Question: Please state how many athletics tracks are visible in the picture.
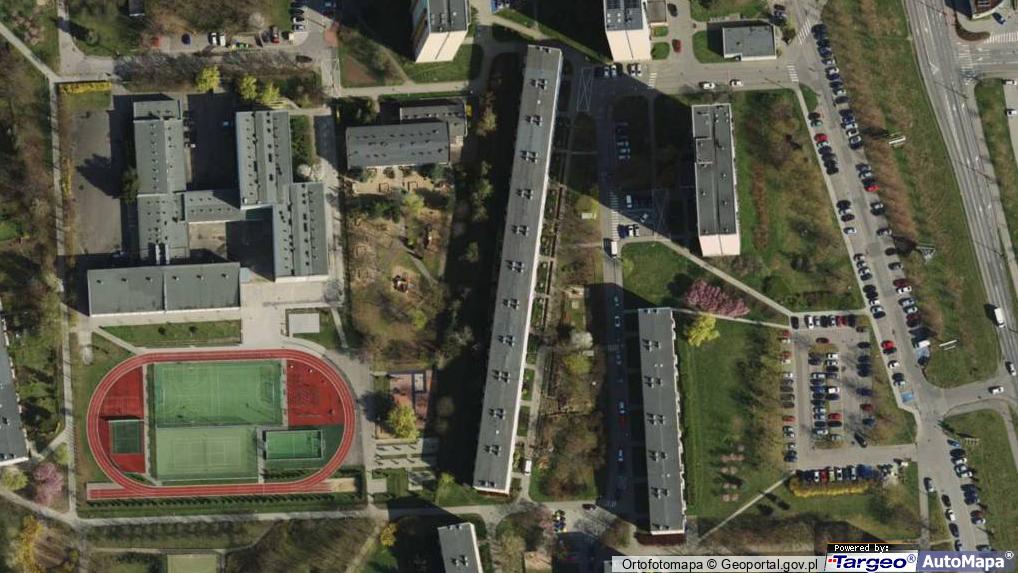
one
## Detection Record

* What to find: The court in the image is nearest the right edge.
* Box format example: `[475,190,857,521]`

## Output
[265,429,325,461]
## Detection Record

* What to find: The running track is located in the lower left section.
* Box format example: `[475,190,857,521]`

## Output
[86,348,356,501]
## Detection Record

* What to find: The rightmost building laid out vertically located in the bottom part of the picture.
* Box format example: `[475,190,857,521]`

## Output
[638,306,689,534]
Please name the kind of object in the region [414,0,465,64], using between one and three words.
building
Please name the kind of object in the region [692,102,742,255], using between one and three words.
building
